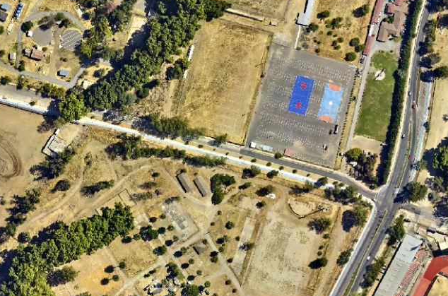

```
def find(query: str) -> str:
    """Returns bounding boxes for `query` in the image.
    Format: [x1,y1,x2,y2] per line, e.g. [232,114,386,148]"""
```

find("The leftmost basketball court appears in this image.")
[288,75,314,113]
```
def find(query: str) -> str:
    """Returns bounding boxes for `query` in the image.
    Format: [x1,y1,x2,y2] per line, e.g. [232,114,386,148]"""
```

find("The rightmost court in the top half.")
[318,83,344,123]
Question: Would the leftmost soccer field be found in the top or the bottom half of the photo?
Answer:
top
